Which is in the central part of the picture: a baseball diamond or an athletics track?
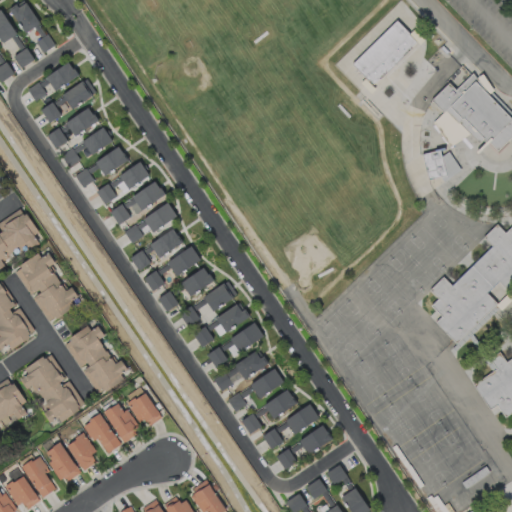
baseball diamond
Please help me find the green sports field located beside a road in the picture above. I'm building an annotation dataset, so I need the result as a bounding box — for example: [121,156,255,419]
[86,0,434,316]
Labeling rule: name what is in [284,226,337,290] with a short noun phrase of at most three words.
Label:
baseball field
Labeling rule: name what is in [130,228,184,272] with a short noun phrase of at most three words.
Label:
house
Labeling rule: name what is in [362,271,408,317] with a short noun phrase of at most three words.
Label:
basketball court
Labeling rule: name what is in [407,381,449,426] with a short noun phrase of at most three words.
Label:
basketball court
